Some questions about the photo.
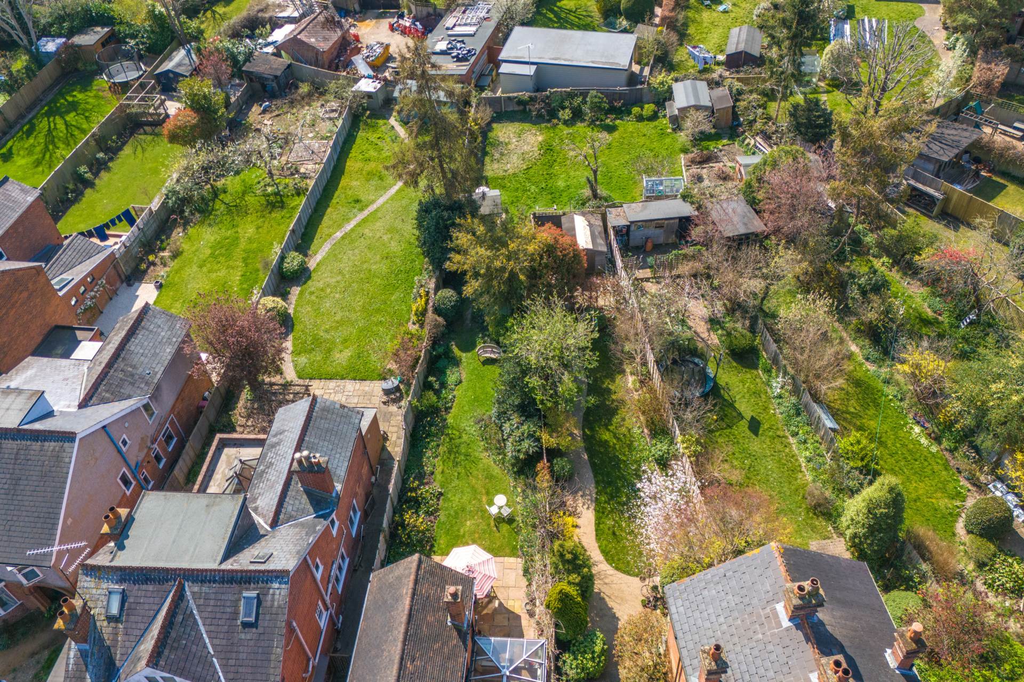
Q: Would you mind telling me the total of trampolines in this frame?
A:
two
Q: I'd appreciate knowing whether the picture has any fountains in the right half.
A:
No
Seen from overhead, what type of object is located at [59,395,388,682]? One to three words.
house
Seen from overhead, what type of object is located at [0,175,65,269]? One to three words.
house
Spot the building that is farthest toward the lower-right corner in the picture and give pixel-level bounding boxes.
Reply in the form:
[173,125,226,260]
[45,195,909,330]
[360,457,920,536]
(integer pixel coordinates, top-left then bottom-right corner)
[662,541,929,682]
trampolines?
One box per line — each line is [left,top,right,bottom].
[660,335,717,401]
[94,43,148,91]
